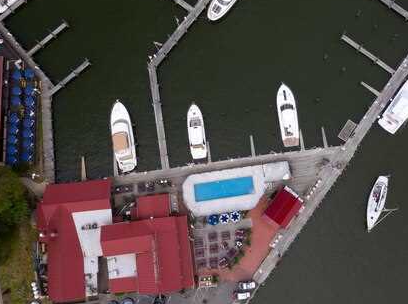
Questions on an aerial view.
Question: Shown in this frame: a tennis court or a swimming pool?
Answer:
swimming pool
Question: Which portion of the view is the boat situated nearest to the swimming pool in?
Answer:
center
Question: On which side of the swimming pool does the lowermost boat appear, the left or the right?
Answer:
on the right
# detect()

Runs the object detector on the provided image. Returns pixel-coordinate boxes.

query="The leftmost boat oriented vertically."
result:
[111,98,138,174]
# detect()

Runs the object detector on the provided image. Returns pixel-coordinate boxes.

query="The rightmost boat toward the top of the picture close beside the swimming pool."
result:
[276,83,300,148]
